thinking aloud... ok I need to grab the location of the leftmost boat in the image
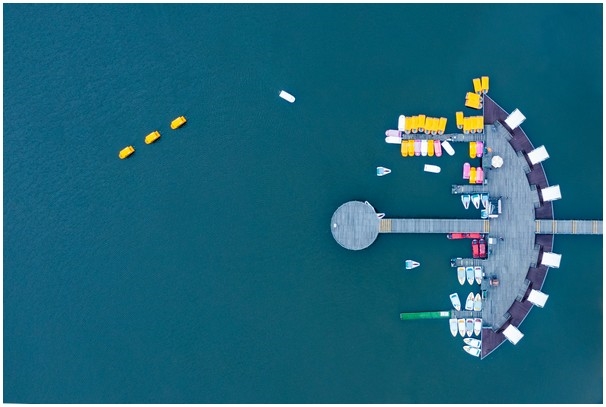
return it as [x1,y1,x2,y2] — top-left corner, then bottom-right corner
[119,145,136,158]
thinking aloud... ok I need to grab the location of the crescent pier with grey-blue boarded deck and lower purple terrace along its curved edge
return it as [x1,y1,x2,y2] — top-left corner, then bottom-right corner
[481,93,554,360]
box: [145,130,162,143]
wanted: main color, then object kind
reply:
yellow boat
